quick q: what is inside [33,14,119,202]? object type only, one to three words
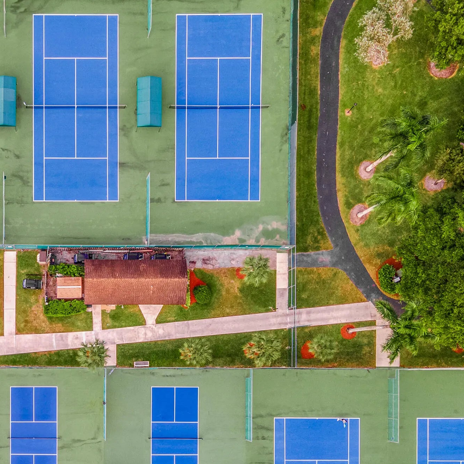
tennis court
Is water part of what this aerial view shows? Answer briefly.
No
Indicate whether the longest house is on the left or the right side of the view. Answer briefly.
left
